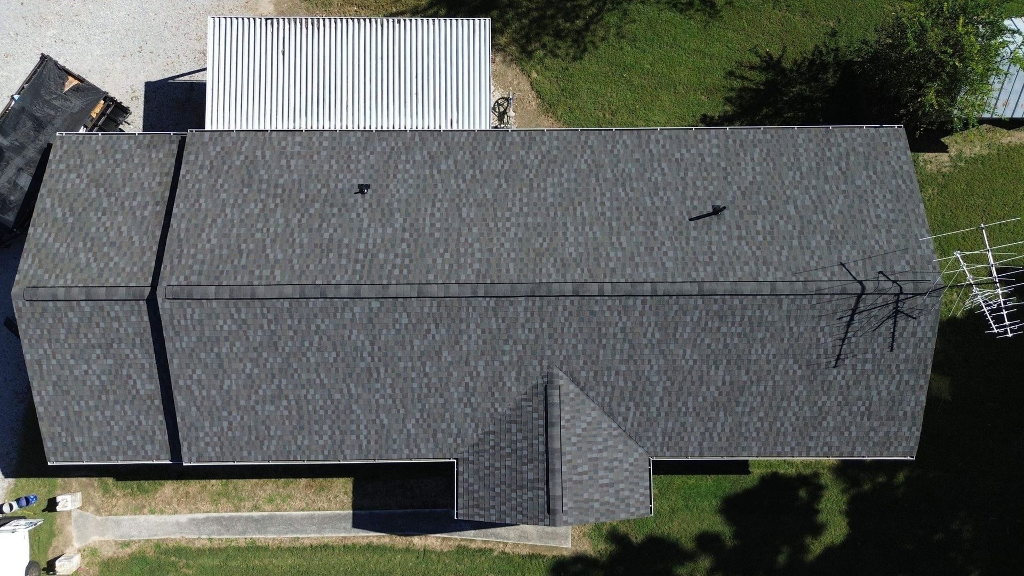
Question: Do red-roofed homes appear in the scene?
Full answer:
No, the photo shows no red-roofed home.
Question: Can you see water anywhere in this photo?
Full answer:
No, there's no water in this view.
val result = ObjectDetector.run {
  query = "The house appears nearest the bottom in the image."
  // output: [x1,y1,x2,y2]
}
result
[12,123,945,526]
